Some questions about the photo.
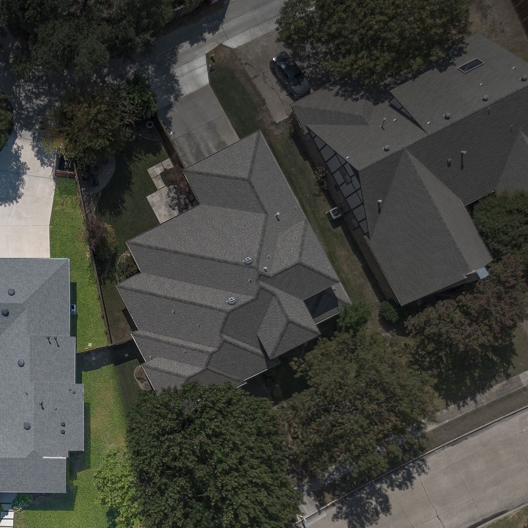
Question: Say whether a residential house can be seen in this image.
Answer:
Yes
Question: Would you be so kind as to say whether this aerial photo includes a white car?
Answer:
No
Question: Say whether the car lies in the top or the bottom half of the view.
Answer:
top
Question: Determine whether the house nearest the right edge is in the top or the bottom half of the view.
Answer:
top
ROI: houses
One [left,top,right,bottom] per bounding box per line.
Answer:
[283,33,528,306]
[0,258,84,493]
[115,128,352,410]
